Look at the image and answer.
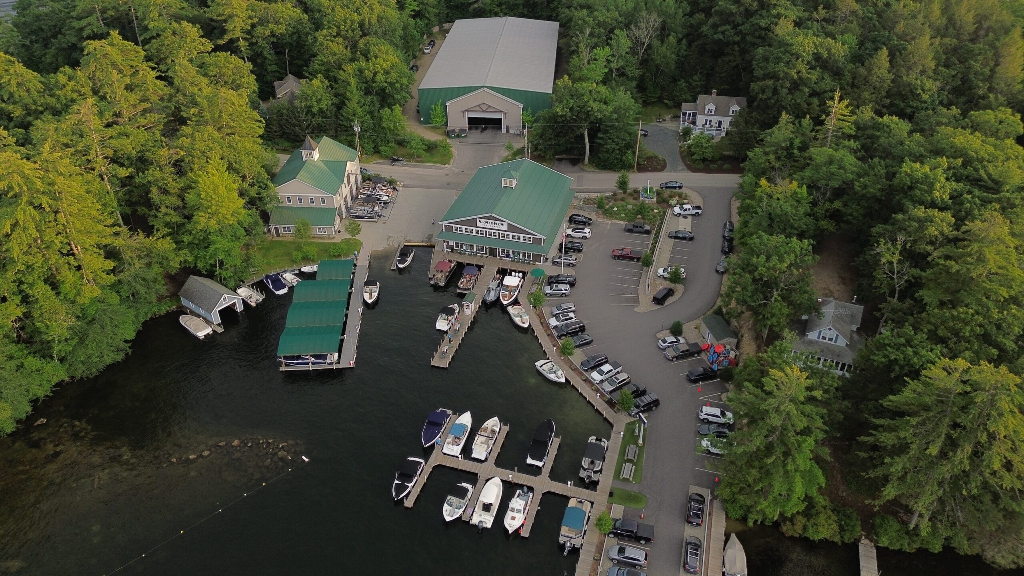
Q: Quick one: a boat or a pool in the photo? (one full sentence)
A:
Looking from above, you can make out a boat.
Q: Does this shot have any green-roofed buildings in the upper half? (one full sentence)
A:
Yes, you'll find a green-roofed building in the upper half.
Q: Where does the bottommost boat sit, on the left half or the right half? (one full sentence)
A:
You can find the bottommost boat on the right side of the picture.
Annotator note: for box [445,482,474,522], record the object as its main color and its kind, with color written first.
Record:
white boat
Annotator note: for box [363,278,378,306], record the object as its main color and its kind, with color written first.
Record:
white boat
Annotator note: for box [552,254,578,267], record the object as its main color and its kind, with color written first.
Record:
gray vehicle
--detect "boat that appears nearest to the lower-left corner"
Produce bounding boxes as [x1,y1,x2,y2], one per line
[179,316,214,341]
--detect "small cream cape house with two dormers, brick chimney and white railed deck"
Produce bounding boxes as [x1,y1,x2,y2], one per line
[680,90,746,131]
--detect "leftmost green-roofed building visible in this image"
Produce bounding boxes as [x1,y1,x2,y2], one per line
[265,128,361,237]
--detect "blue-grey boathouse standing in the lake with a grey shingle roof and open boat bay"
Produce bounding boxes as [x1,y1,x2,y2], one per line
[178,275,244,328]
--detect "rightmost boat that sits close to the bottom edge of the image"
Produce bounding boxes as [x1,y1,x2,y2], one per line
[724,535,749,576]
